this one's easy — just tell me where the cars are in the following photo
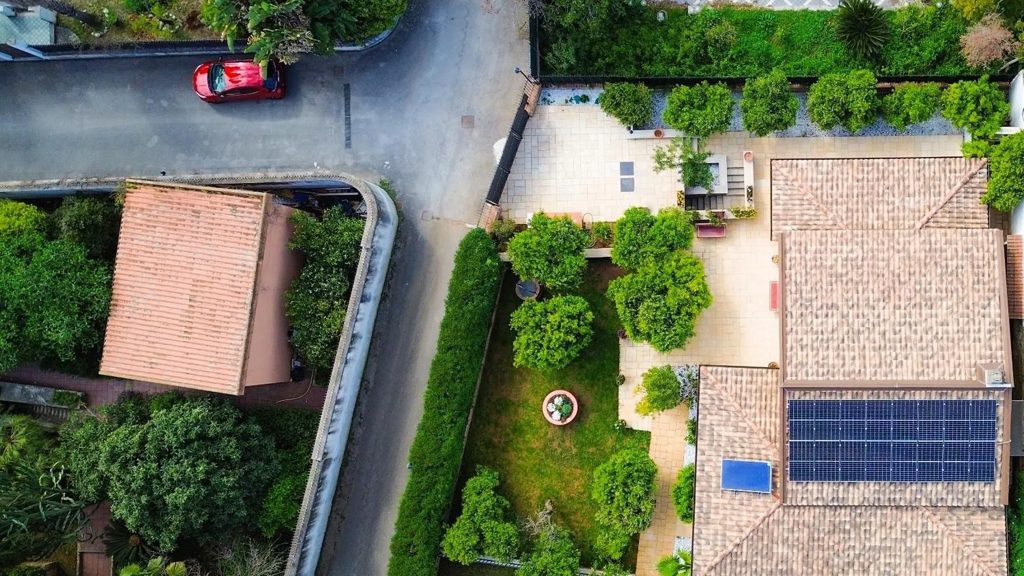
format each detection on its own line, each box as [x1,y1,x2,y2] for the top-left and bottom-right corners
[193,52,288,106]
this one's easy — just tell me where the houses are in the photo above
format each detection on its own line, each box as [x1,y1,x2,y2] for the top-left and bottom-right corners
[98,178,306,397]
[684,156,1013,576]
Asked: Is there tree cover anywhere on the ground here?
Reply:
Yes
